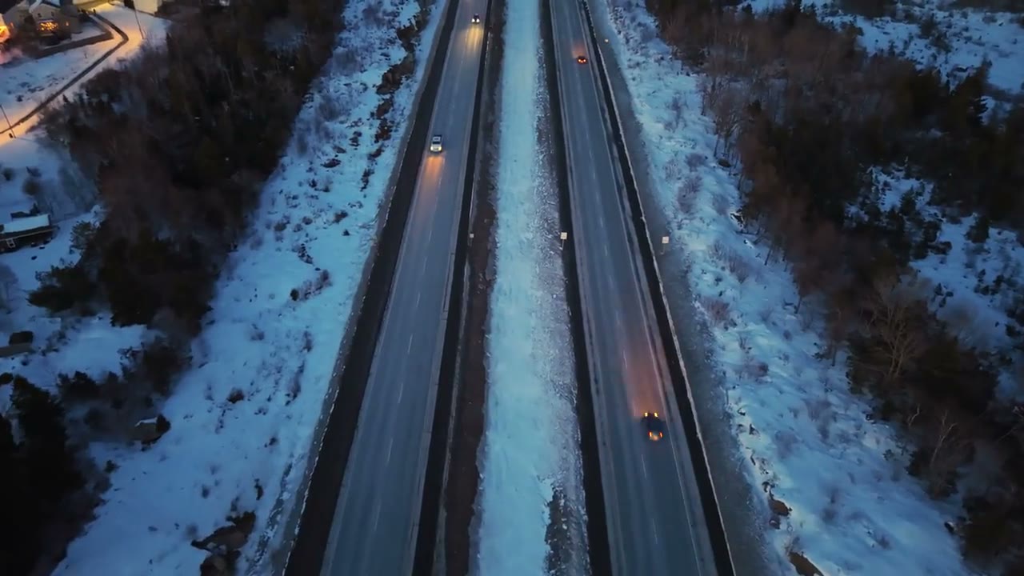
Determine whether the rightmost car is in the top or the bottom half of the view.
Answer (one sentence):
The rightmost car is in the bottom half of the image.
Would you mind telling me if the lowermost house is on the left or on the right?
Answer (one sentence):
The lowermost house sits on the left side.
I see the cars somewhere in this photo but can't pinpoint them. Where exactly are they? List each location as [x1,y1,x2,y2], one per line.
[577,53,586,61]
[472,13,479,21]
[644,411,664,441]
[430,133,442,149]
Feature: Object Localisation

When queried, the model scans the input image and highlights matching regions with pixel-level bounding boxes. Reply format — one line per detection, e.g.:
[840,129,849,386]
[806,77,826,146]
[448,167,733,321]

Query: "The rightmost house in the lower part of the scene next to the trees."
[132,411,172,443]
